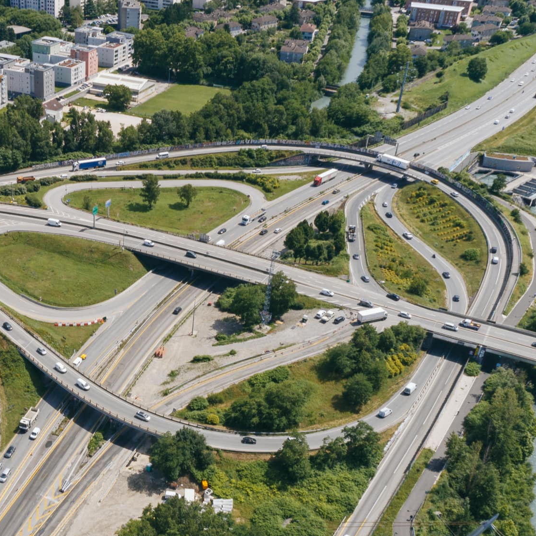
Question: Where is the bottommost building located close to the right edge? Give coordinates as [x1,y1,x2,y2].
[481,154,534,173]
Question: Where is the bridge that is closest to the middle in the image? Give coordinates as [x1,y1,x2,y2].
[172,229,281,285]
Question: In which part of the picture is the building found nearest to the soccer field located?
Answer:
top left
